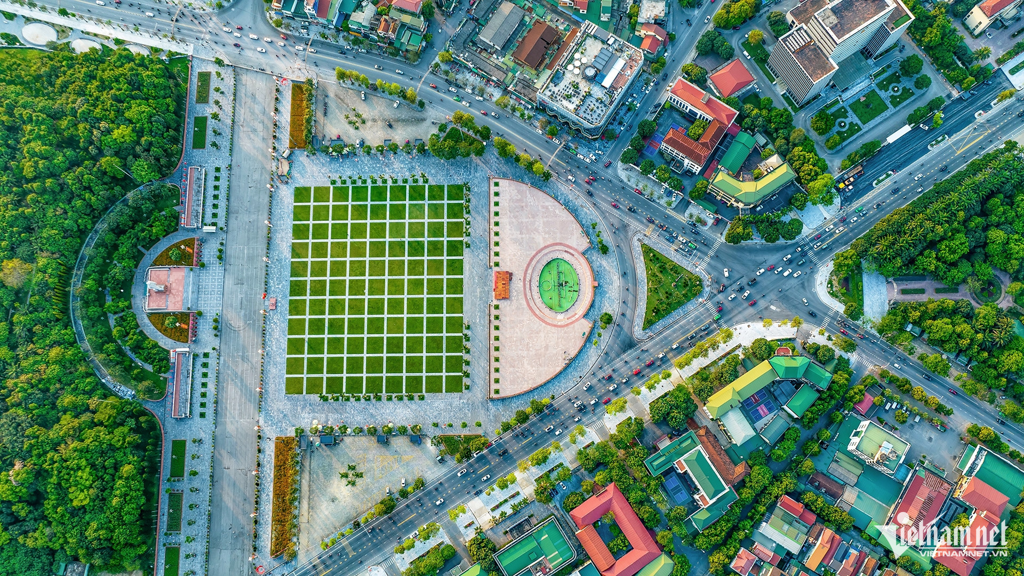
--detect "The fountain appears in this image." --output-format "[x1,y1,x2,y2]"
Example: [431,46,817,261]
[524,242,598,327]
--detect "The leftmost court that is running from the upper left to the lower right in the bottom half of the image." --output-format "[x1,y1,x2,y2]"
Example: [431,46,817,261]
[663,472,692,505]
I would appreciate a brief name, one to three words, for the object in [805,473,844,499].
house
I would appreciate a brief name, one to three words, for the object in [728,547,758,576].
house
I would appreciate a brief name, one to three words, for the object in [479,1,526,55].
building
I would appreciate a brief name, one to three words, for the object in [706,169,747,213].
building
